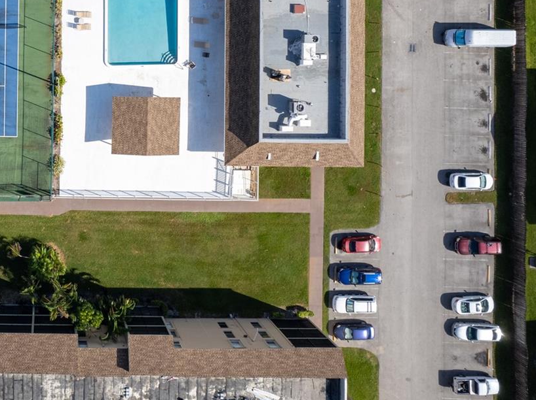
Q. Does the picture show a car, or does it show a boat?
car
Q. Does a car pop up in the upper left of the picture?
No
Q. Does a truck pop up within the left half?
No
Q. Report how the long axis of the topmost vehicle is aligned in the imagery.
horizontally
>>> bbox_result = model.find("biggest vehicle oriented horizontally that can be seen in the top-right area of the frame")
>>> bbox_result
[440,28,515,50]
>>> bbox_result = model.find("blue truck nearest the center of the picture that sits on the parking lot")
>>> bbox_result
[336,266,383,287]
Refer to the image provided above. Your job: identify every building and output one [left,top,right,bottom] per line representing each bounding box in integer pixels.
[111,97,180,155]
[222,0,365,167]
[0,304,346,400]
